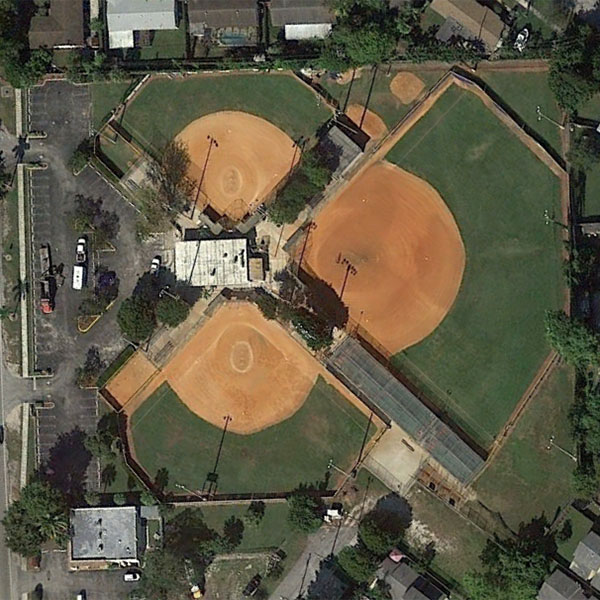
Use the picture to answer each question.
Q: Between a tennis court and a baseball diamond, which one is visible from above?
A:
baseball diamond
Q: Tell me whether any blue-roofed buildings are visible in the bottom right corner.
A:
No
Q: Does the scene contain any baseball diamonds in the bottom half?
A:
Yes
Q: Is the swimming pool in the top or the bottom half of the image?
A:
top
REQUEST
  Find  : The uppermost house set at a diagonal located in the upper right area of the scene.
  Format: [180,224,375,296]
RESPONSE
[428,0,506,54]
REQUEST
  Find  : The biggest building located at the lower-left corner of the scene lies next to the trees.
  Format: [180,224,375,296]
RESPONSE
[70,506,143,569]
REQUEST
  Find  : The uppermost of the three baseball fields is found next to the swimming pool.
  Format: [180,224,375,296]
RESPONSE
[119,71,340,218]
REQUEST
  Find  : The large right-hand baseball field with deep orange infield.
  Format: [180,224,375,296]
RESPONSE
[296,74,572,473]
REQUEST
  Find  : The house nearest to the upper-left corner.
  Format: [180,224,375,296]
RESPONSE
[50,0,86,47]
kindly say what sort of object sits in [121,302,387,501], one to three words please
baseball field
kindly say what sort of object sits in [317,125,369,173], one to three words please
shed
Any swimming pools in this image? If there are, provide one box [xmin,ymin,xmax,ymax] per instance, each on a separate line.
[204,26,258,47]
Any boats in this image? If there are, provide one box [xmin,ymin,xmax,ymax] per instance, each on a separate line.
[512,26,527,49]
